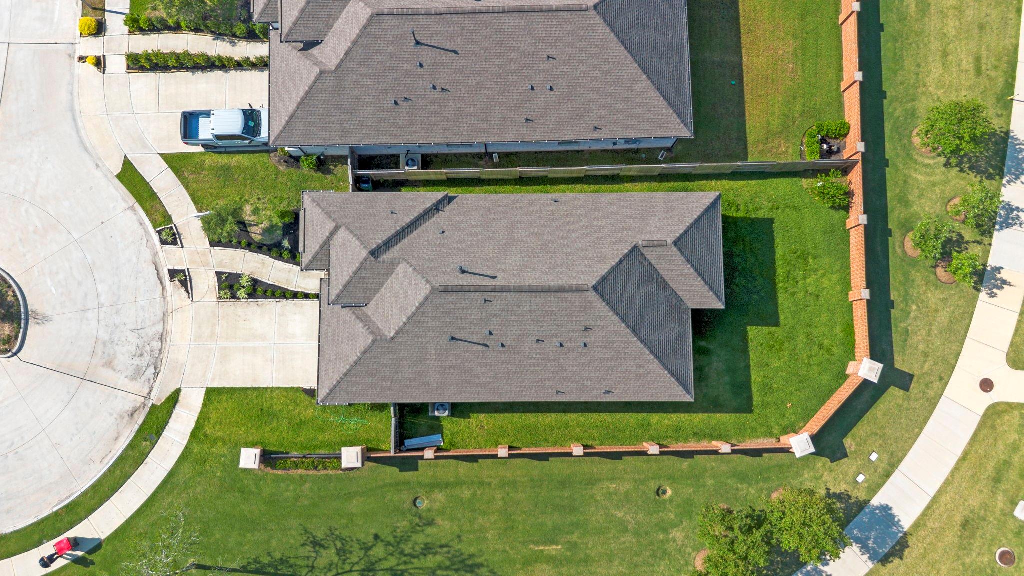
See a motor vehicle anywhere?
Yes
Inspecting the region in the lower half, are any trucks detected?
No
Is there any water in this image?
No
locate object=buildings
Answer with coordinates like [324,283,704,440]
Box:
[247,0,696,158]
[296,189,726,406]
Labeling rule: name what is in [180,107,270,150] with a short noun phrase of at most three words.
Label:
truck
